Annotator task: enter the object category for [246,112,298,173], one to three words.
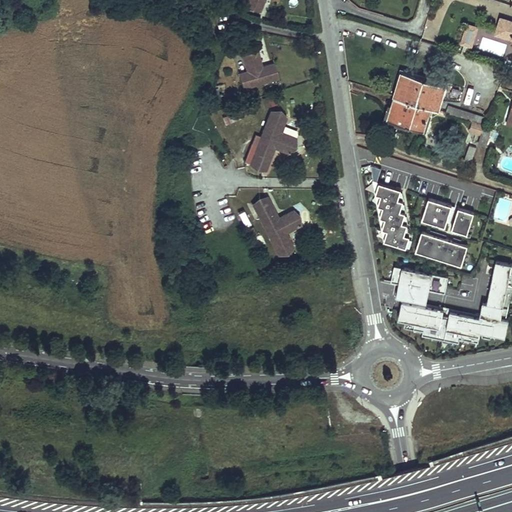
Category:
house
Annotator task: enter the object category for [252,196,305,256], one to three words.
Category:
house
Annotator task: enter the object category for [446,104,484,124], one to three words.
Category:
building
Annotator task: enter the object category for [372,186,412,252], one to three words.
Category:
building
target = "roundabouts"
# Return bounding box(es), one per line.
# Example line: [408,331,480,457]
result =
[340,326,432,426]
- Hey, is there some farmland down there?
Yes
